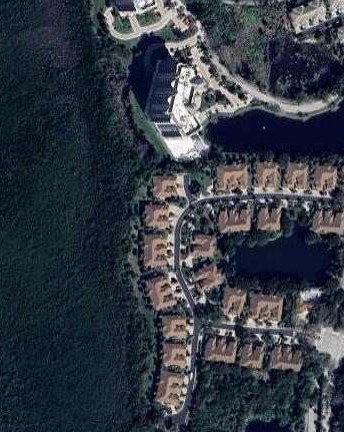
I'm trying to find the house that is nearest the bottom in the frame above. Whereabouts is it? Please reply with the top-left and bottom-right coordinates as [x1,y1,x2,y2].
[155,368,186,403]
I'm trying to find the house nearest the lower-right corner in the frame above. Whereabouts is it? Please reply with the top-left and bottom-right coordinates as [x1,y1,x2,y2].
[268,346,302,370]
